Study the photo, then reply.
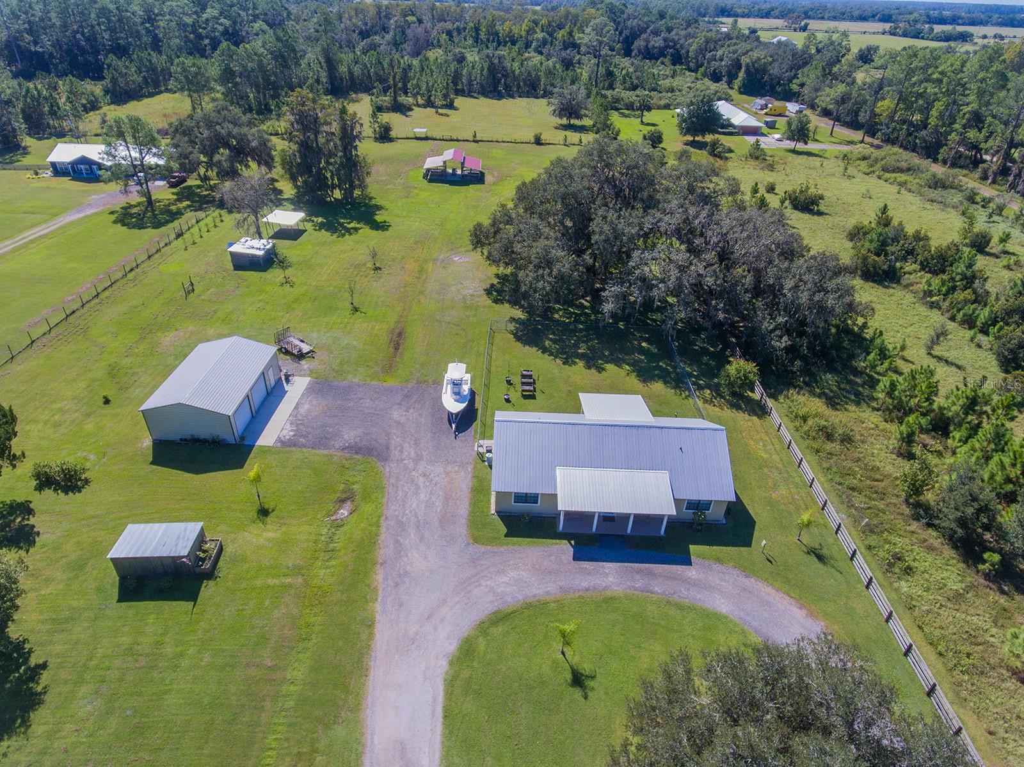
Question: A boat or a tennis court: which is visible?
boat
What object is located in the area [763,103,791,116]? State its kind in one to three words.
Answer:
vehicle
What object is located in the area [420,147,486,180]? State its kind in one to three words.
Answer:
building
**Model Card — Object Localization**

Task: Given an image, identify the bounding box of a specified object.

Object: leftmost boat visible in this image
[444,365,472,413]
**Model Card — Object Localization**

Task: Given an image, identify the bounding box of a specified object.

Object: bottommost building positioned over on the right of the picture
[490,393,739,540]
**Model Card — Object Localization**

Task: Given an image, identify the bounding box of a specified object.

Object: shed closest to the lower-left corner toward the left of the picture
[107,523,205,576]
